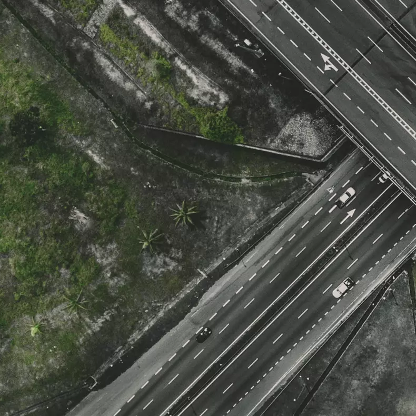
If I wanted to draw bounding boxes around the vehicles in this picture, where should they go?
[332,275,356,298]
[195,326,213,343]
[377,170,390,185]
[334,187,356,210]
